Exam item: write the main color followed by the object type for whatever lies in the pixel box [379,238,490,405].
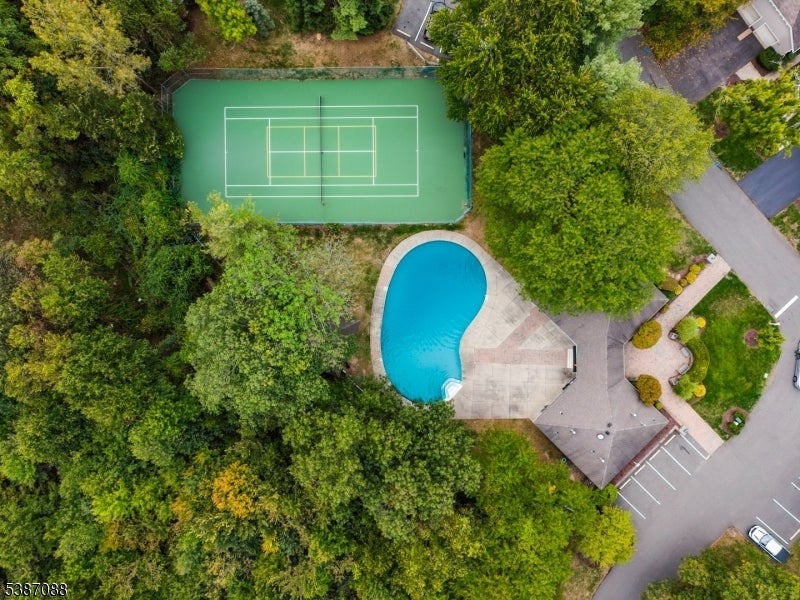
blue swimming pool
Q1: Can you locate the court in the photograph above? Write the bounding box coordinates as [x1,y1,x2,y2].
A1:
[173,79,466,223]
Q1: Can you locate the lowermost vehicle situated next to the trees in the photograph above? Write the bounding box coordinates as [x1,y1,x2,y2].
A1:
[745,523,792,566]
